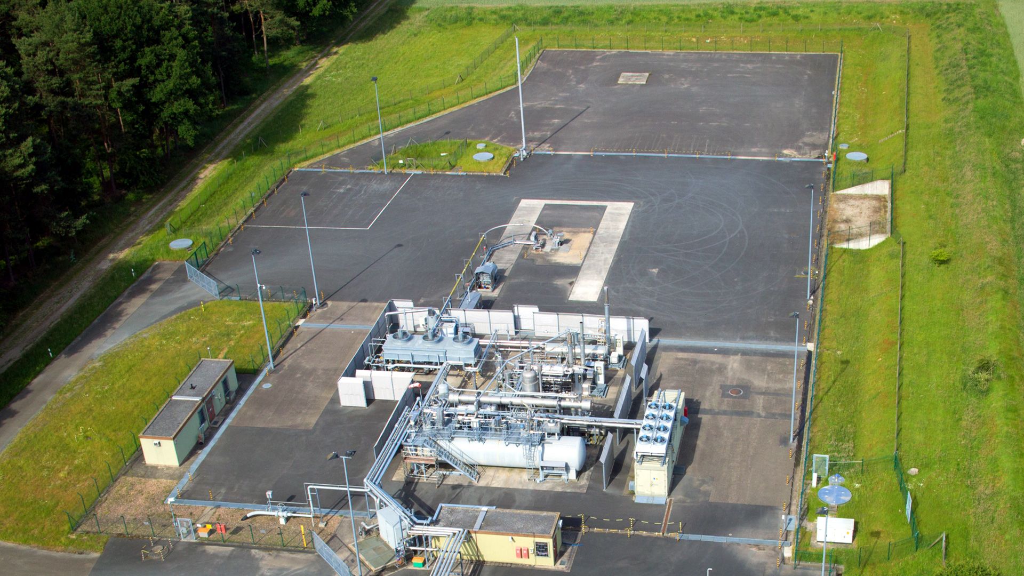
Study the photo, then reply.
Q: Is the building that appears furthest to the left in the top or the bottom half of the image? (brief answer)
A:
bottom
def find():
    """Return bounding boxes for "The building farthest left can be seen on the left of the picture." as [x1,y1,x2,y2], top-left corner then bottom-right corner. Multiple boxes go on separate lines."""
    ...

[135,360,238,467]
